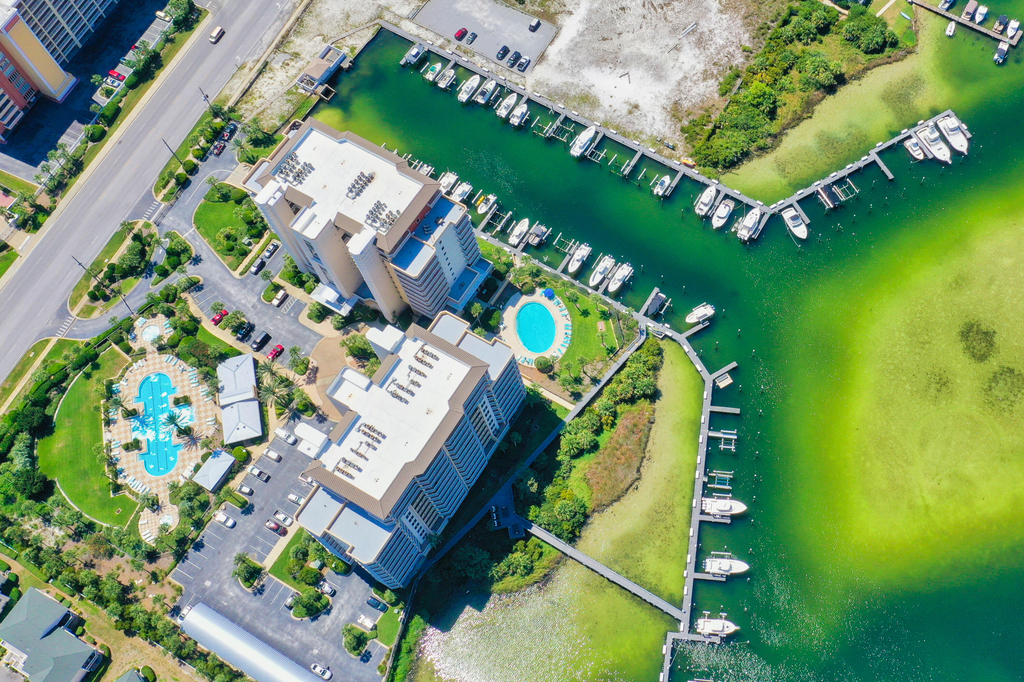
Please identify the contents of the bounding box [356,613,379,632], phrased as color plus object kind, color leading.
white vehicle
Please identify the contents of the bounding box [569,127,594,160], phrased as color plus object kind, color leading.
white boat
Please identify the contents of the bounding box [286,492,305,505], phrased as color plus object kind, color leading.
white vehicle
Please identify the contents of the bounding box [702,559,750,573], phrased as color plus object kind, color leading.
white boat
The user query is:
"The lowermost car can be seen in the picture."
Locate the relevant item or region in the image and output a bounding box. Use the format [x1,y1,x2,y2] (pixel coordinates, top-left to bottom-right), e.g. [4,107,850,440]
[310,662,333,682]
